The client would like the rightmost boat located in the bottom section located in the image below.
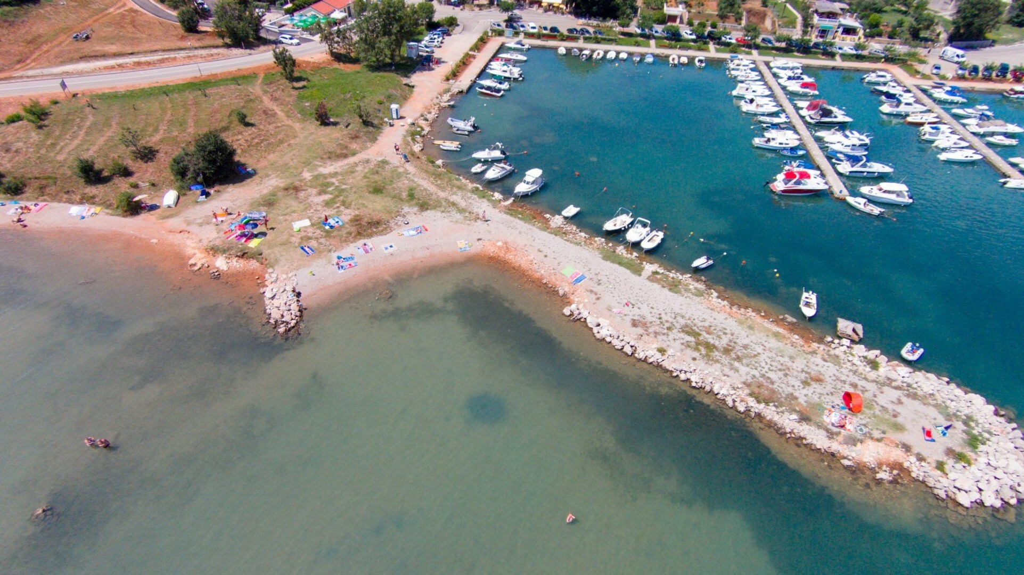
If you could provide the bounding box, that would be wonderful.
[901,342,926,360]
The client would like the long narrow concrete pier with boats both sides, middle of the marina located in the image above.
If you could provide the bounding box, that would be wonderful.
[757,62,849,203]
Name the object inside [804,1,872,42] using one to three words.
house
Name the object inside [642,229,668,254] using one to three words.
boat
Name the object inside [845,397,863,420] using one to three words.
tent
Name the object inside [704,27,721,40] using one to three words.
vehicle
